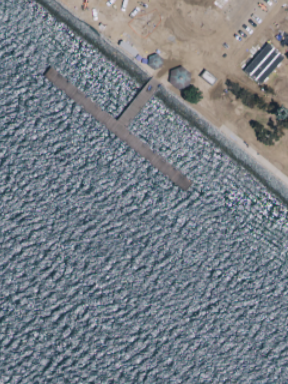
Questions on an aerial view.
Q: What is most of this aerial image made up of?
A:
water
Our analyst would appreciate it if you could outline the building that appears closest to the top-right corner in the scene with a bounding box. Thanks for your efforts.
[244,42,284,83]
